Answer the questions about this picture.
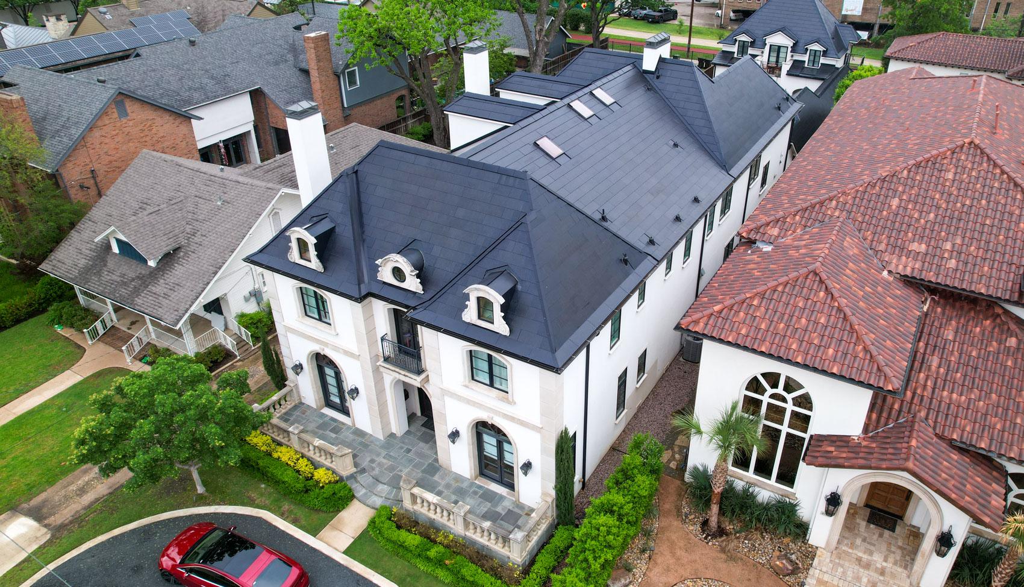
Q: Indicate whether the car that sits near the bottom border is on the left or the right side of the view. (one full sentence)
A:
The car that sits near the bottom border sits on the left side.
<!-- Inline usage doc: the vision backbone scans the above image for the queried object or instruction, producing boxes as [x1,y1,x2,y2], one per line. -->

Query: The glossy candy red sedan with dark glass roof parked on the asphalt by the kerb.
[163,520,304,587]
